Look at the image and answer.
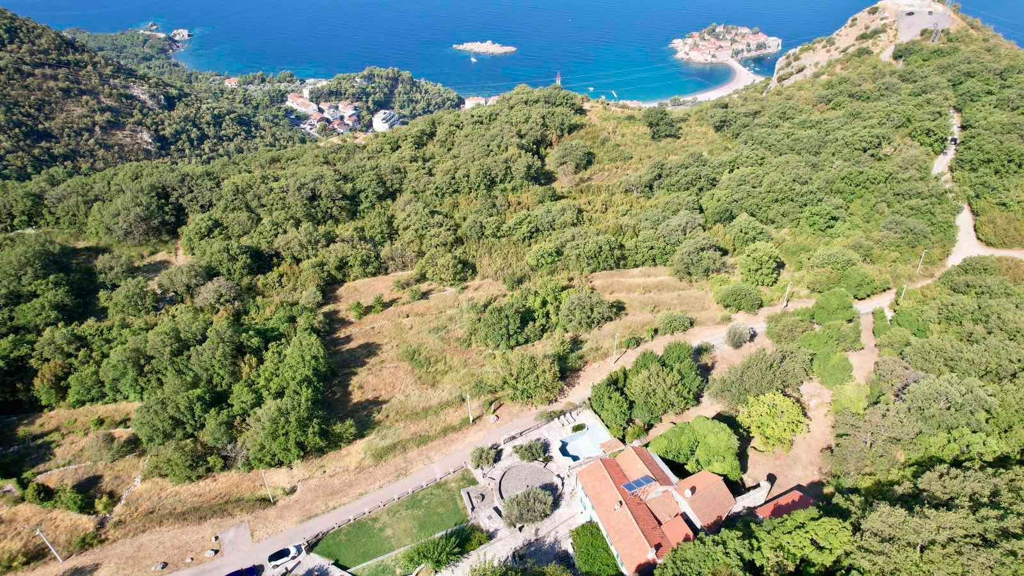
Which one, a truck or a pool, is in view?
pool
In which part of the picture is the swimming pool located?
bottom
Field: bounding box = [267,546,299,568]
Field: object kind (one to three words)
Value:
car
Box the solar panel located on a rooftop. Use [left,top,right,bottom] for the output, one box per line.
[621,475,656,499]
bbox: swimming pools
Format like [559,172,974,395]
[557,416,613,463]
